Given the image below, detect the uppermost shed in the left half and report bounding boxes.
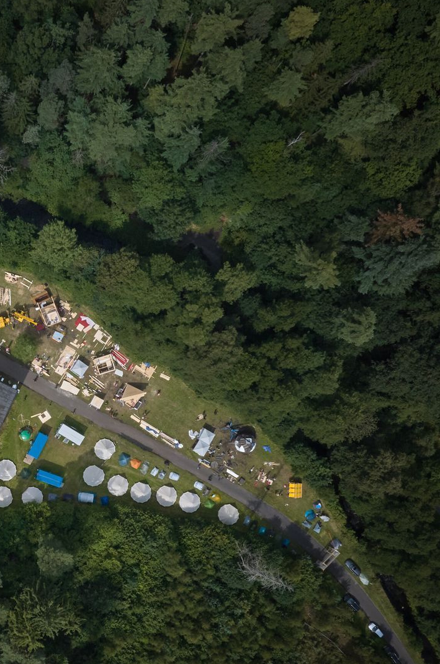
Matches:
[36,296,62,327]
